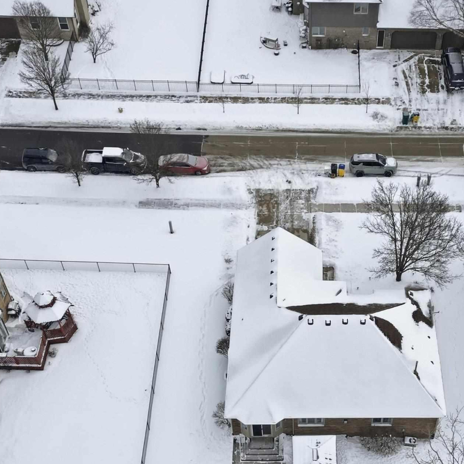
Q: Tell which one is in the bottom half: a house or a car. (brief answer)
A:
house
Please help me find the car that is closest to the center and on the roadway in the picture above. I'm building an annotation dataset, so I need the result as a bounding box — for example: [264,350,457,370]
[157,150,209,174]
